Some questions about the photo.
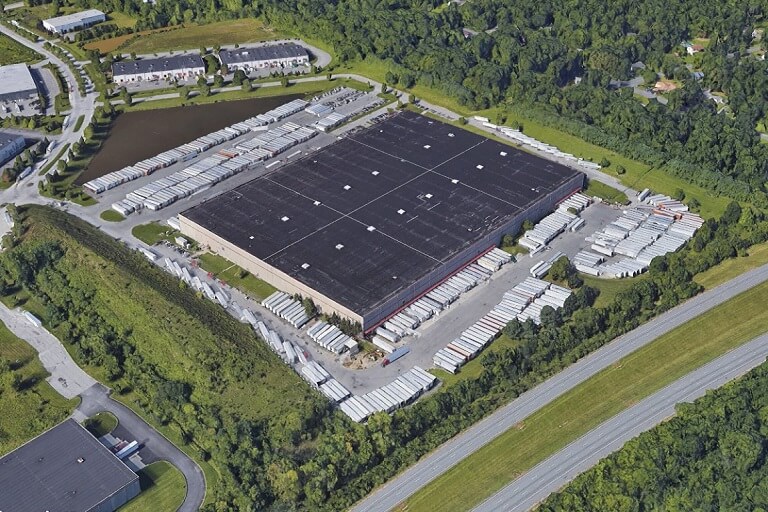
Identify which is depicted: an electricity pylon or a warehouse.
warehouse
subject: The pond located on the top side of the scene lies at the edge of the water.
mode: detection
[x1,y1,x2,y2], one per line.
[77,90,320,190]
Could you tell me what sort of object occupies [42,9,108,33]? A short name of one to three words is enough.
building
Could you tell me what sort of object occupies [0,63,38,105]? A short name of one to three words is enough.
building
